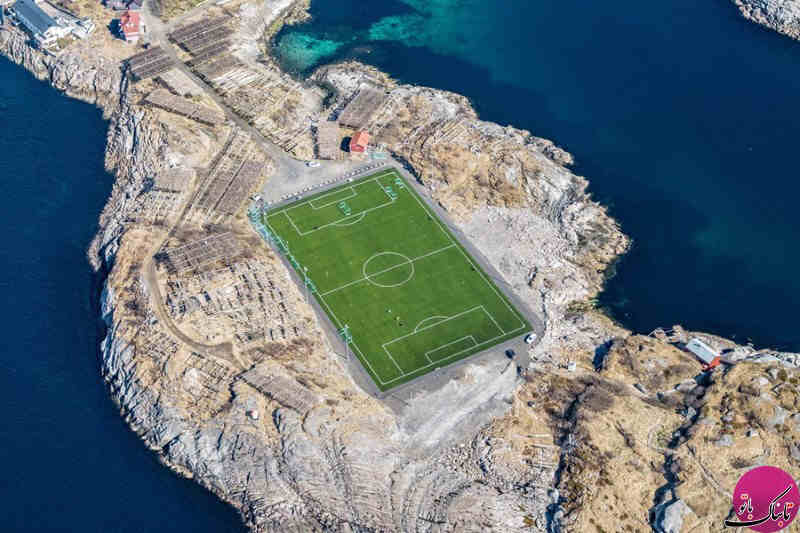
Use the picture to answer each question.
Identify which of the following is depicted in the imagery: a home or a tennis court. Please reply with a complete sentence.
It is a home that can be seen here.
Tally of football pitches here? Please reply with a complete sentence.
I count just 1 football pitch.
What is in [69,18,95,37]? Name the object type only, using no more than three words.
building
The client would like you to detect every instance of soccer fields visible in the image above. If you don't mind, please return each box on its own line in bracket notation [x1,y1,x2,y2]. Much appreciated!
[261,166,532,391]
